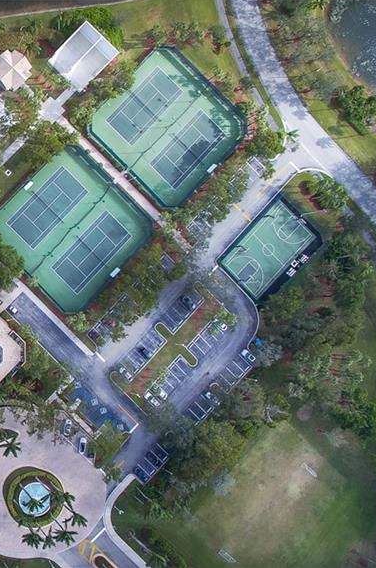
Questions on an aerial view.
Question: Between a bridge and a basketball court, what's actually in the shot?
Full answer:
It is a basketball court that can be seen here.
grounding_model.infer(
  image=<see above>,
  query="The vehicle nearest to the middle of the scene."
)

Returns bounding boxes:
[182,295,196,310]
